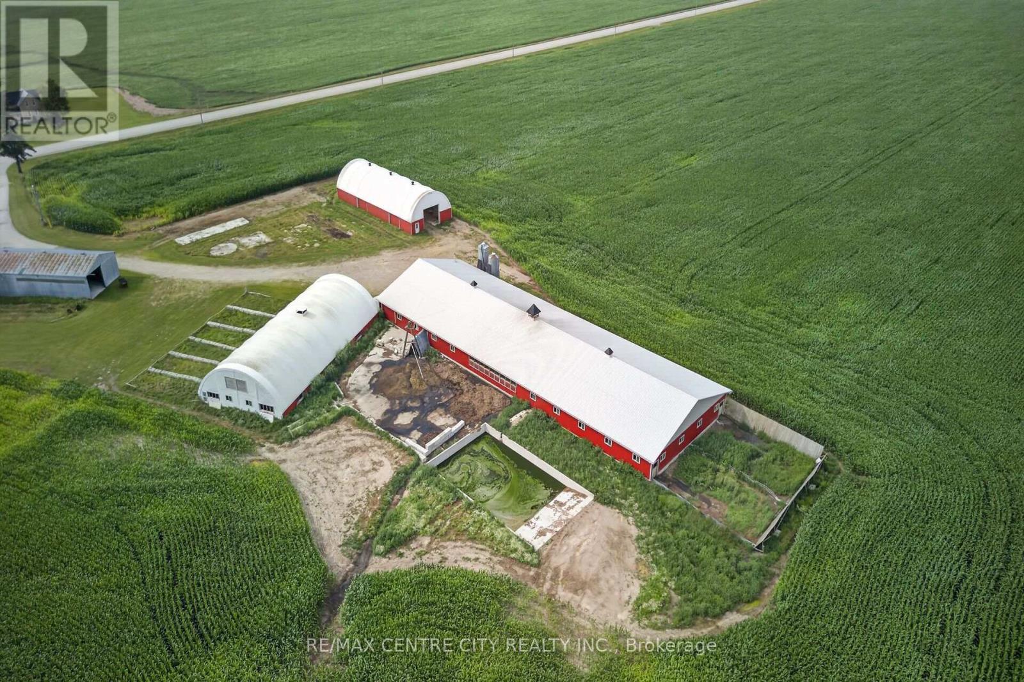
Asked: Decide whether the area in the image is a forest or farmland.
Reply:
farmland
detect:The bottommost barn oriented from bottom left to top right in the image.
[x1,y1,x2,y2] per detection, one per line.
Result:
[196,271,381,424]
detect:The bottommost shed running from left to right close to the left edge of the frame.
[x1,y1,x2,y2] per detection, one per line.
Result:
[0,250,122,298]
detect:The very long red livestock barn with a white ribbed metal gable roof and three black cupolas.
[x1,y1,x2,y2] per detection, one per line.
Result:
[378,257,732,480]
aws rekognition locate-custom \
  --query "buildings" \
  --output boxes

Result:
[336,158,452,234]
[196,271,381,424]
[0,250,122,298]
[378,257,732,480]
[0,81,68,129]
